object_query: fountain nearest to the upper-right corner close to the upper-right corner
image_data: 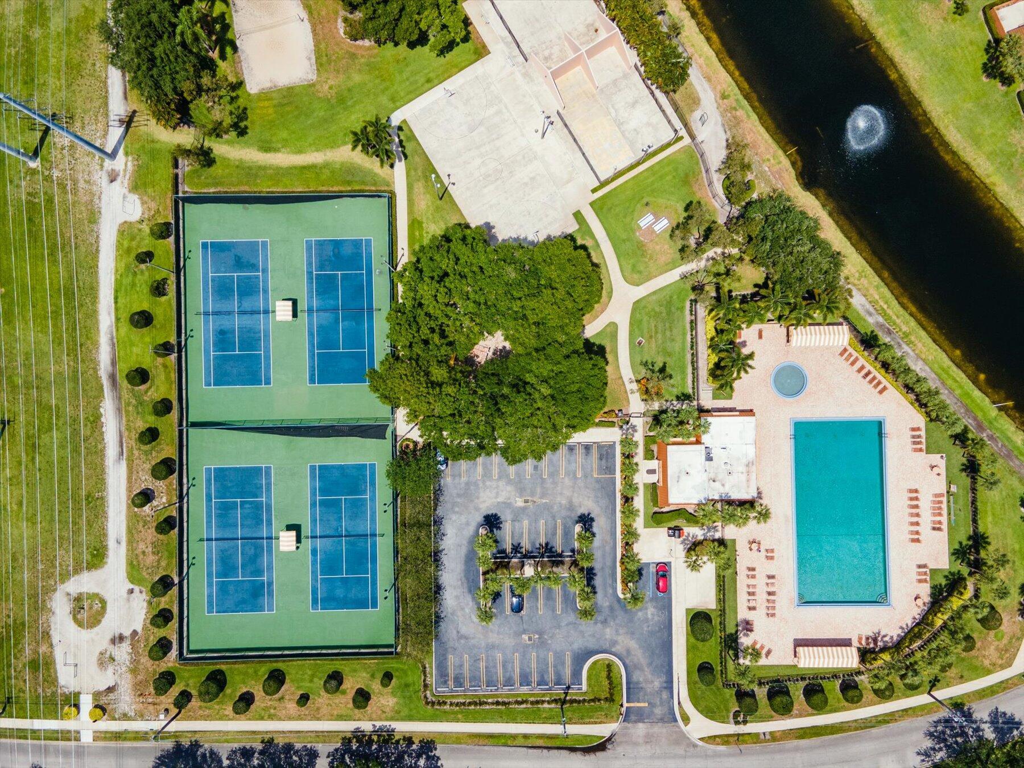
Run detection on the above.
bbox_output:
[848,107,890,149]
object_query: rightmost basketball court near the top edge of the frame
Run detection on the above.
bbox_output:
[405,0,690,268]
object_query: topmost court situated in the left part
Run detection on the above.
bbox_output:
[231,0,316,92]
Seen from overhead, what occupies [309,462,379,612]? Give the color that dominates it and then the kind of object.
blue tennis court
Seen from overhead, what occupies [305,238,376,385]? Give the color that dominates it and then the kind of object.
blue tennis court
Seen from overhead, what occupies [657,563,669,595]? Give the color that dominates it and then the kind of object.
red vehicle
